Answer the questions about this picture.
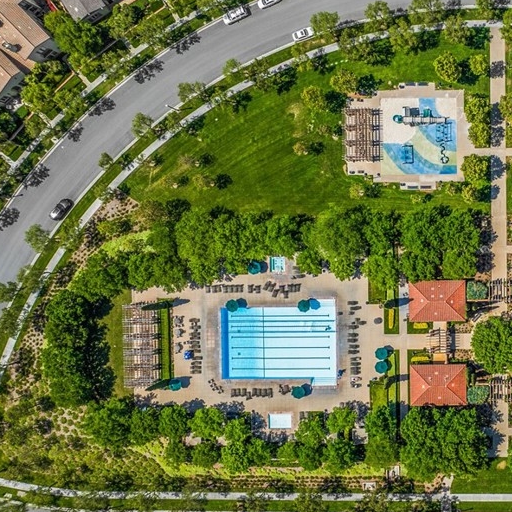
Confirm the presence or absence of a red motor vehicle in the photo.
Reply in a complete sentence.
No, there is no red motor vehicle in the image.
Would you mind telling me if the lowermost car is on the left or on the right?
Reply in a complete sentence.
It is on the left.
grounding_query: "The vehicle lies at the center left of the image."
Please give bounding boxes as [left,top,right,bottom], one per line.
[48,197,71,221]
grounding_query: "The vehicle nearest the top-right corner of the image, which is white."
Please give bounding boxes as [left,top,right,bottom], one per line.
[289,26,313,41]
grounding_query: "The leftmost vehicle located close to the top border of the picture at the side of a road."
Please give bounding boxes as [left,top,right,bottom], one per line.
[222,5,248,24]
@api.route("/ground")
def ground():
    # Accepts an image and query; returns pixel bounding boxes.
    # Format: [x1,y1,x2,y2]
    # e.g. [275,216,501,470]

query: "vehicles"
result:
[48,197,71,221]
[222,5,248,24]
[256,0,280,8]
[289,26,313,41]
